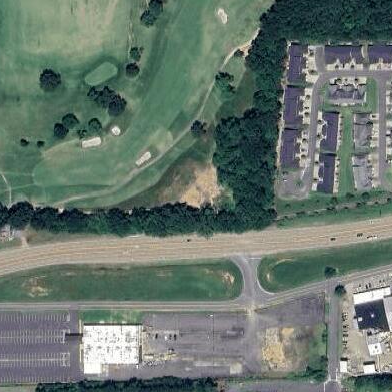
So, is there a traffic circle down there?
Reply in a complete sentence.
No, no traffic circle is visible in the scene.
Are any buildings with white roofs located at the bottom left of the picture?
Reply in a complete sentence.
Yes, a building with a white roof can be seen at the bottom left of the picture.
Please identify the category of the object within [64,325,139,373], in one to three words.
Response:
building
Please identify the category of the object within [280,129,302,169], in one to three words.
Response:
house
